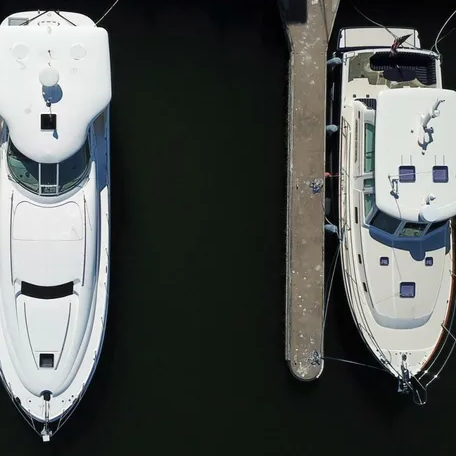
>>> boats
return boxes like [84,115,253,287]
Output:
[0,10,112,446]
[332,27,456,414]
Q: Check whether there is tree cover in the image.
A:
No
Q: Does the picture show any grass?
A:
No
